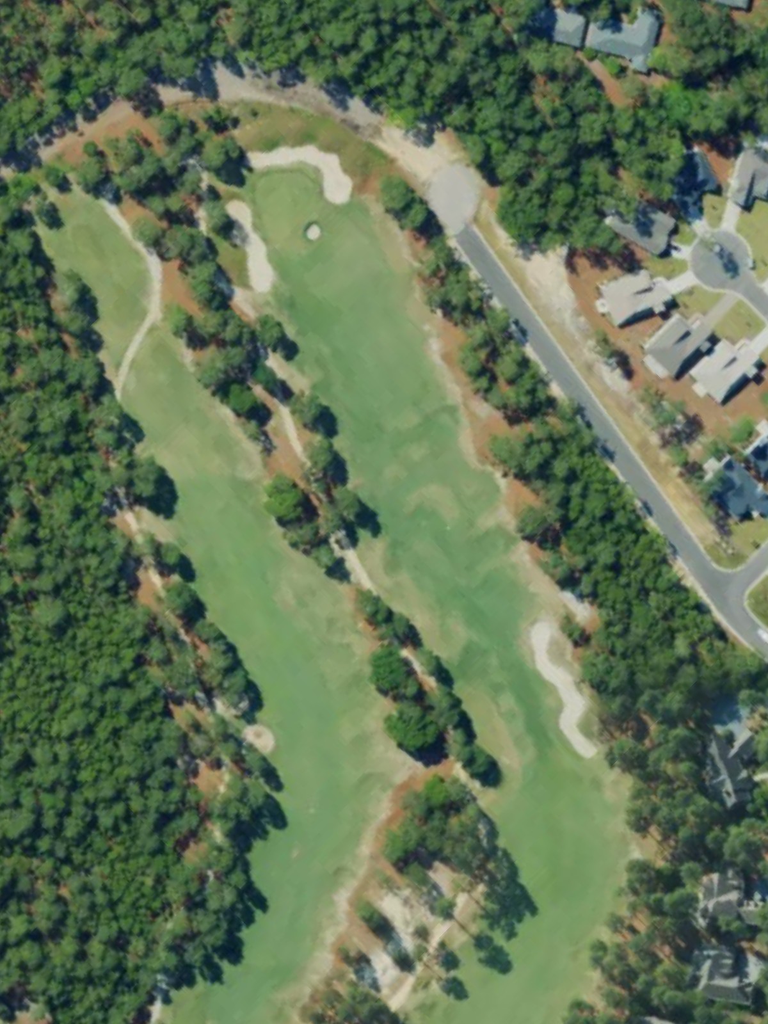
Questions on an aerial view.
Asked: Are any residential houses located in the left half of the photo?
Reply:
No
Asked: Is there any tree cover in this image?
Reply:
Yes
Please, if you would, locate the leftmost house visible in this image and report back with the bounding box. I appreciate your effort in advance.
[553,7,585,45]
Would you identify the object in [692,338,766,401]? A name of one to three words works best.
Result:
house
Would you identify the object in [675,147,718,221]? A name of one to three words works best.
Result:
house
